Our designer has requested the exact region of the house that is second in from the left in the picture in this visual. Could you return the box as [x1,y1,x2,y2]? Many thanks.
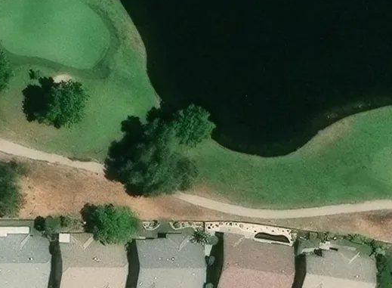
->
[60,234,128,288]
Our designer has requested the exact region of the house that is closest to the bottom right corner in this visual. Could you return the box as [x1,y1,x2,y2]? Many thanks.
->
[301,244,377,288]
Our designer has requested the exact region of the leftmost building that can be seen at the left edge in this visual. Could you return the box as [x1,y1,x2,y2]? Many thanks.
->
[0,234,52,288]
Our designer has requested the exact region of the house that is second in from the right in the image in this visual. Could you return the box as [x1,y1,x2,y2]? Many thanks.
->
[218,235,295,288]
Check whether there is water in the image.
Yes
